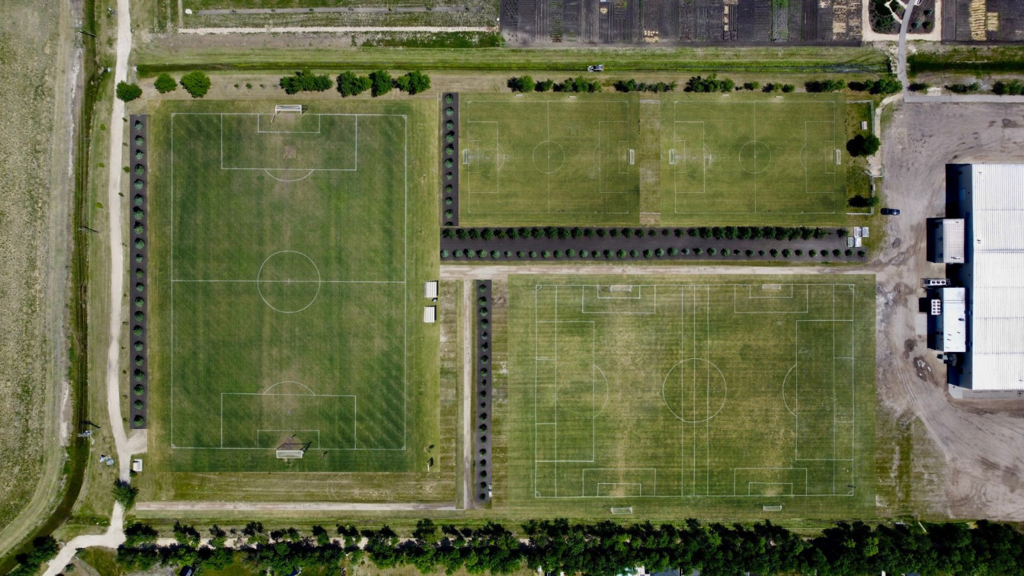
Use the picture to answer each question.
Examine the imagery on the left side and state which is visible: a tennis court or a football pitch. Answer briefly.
football pitch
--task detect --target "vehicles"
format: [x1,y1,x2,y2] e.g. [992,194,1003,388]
[488,484,495,498]
[882,207,901,215]
[588,64,604,72]
[934,355,957,364]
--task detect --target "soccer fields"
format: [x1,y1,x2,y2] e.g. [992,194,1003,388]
[508,275,876,517]
[460,93,639,226]
[660,93,846,226]
[148,100,439,472]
